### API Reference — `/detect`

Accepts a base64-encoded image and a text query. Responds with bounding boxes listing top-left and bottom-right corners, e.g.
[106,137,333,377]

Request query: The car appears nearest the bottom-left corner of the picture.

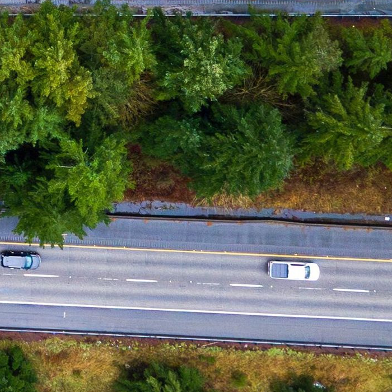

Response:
[0,250,39,271]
